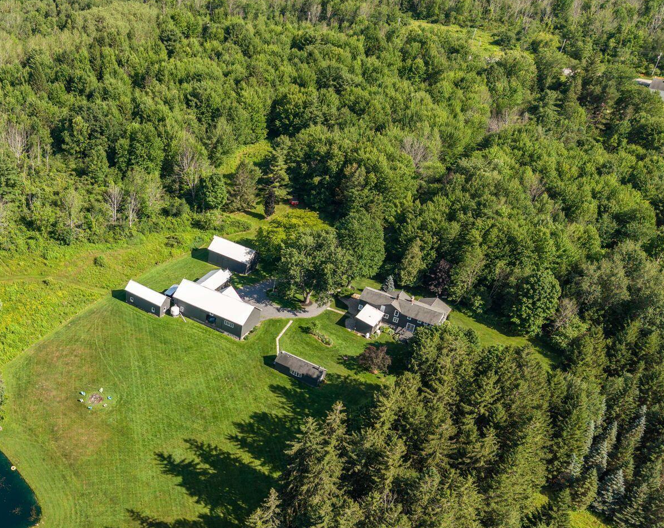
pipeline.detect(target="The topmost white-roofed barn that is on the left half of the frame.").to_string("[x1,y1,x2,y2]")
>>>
[206,233,266,275]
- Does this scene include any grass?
Yes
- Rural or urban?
rural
